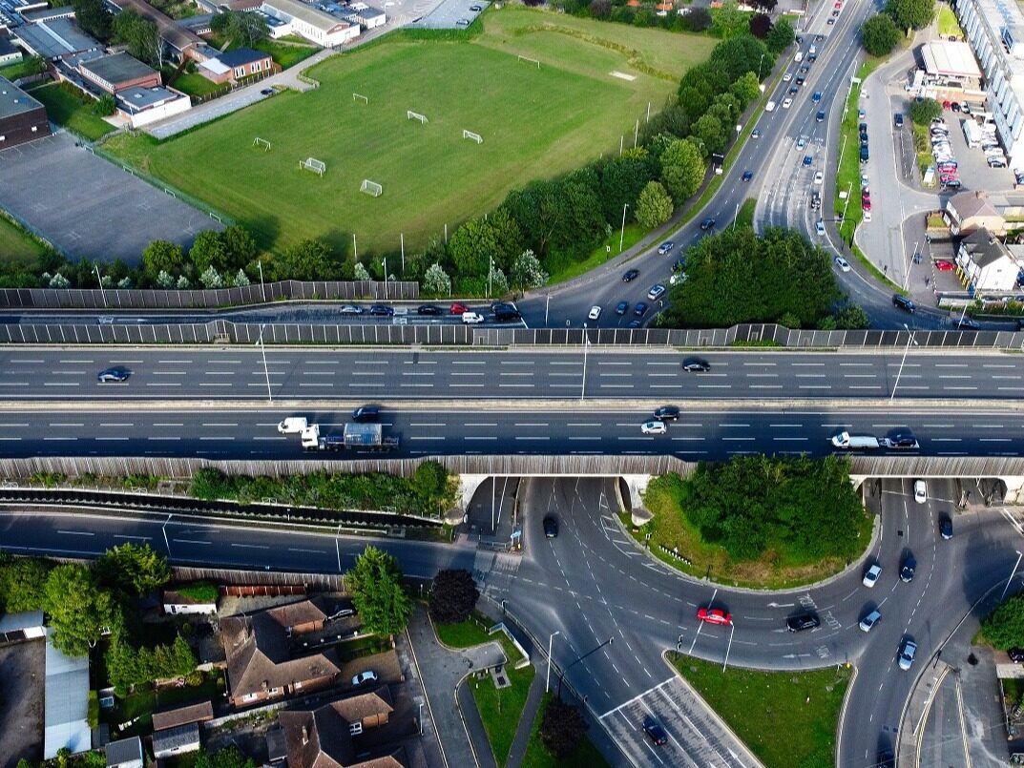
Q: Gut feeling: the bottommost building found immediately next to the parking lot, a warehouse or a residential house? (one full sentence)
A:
The bottommost building found immediately next to the parking lot is a residential house.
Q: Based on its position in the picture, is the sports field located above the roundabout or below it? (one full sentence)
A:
The position of the sports field is above the roundabout.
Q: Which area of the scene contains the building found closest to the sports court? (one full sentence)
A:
The building found closest to the sports court is located in the top left region of the scene.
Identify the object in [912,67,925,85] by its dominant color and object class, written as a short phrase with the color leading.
white vehicle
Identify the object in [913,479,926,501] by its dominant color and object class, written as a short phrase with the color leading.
white vehicle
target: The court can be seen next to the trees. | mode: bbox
[0,135,226,269]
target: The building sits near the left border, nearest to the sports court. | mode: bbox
[0,74,51,149]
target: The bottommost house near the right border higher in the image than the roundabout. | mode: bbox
[961,216,1019,289]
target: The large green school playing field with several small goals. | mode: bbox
[100,7,720,286]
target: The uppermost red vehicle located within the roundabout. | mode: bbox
[697,608,731,626]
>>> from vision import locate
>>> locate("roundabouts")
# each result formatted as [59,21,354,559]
[0,478,1024,768]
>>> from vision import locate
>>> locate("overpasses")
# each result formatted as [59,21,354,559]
[0,343,1024,530]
